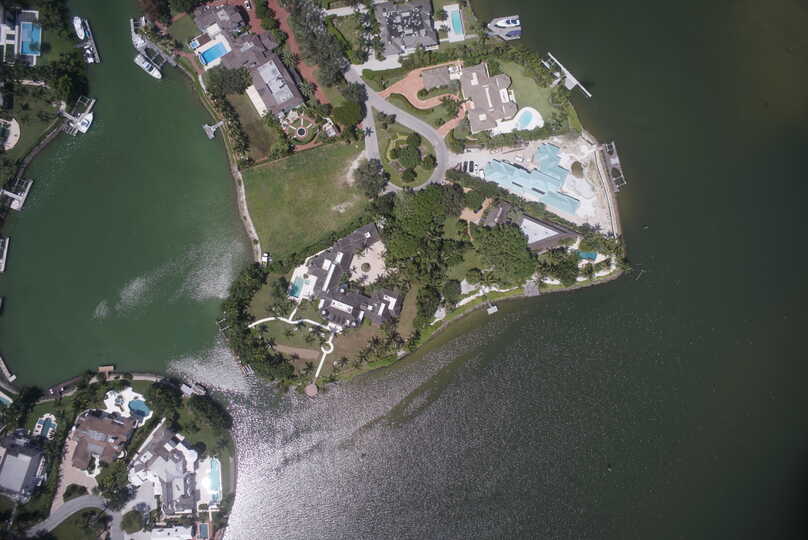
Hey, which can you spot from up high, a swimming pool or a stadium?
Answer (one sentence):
There is a swimming pool in the scene.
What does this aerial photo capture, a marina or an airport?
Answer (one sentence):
This image shows a marina.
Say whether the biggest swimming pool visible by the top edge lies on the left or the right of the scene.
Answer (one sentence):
The biggest swimming pool visible by the top edge sits on the left side.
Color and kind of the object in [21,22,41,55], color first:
blue swimming pool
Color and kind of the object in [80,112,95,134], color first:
white boat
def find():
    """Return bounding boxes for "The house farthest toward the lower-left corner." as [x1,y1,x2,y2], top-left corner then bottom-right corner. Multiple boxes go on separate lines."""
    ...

[0,429,45,497]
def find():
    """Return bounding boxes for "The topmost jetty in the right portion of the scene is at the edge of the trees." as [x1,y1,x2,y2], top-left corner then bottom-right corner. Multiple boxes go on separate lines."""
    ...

[487,14,522,40]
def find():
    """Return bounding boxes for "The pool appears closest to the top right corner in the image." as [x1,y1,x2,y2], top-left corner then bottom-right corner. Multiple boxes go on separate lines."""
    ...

[518,110,533,129]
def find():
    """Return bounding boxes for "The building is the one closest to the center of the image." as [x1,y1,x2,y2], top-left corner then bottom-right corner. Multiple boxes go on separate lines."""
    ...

[307,223,402,327]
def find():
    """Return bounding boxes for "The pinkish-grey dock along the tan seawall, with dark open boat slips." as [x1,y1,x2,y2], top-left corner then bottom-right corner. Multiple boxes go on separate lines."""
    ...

[600,141,627,194]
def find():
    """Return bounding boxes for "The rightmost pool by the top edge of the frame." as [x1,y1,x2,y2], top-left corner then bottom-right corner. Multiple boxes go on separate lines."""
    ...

[450,9,465,35]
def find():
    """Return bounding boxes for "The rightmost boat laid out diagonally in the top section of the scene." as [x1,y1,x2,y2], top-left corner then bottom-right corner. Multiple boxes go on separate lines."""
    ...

[133,52,162,79]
